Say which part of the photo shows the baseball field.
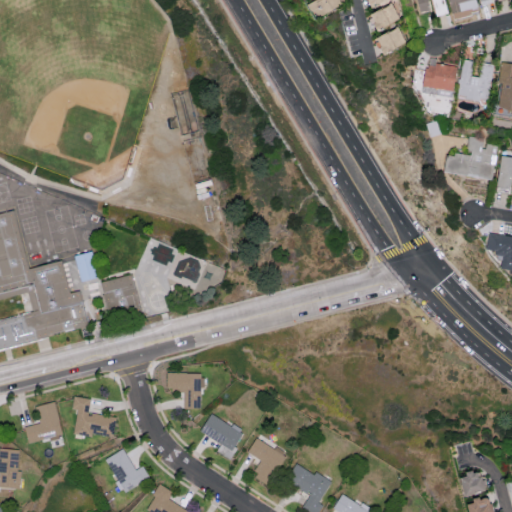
top left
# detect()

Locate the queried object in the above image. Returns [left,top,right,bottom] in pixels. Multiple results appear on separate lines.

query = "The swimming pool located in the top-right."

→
[456,99,486,116]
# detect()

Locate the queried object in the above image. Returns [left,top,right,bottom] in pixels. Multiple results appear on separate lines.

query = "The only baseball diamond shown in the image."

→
[0,0,167,189]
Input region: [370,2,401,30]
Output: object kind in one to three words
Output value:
house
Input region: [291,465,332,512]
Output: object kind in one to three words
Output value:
house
